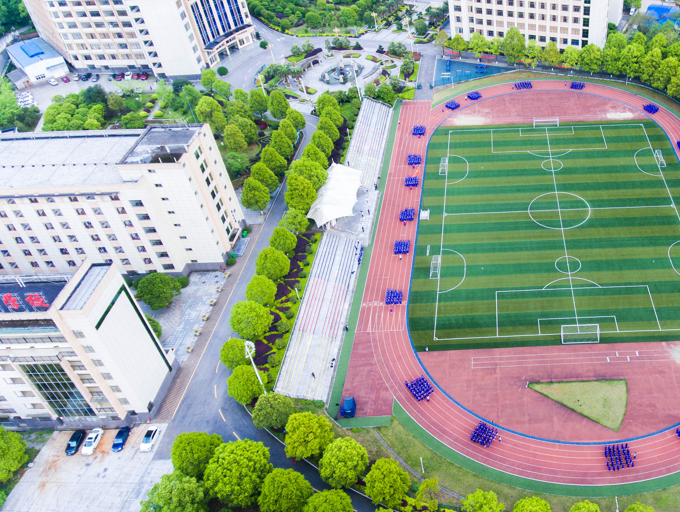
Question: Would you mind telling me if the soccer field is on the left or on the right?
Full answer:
The soccer field appears in the right half of the scene.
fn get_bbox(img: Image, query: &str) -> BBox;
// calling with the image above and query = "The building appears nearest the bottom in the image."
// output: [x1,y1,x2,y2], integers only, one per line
[0,263,185,428]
